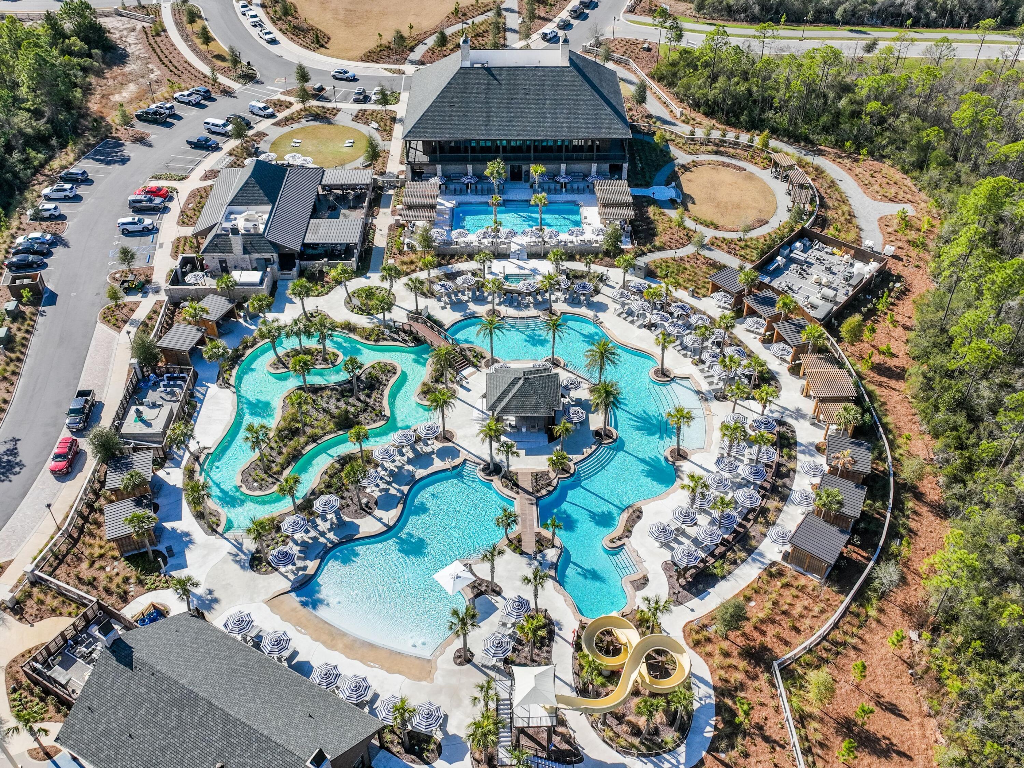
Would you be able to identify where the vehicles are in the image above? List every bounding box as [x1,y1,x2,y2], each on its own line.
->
[171,89,204,105]
[333,66,359,83]
[61,391,99,430]
[539,27,559,42]
[117,216,153,233]
[246,9,260,25]
[27,203,61,219]
[553,19,574,31]
[129,194,164,212]
[566,5,586,18]
[48,438,81,475]
[151,101,177,115]
[12,242,49,257]
[258,22,276,42]
[5,256,43,271]
[371,88,383,103]
[575,0,596,8]
[58,167,91,183]
[248,99,275,117]
[190,85,215,100]
[16,232,53,246]
[202,116,235,136]
[42,184,76,200]
[352,85,365,104]
[135,107,169,124]
[238,0,250,13]
[184,134,220,151]
[137,187,168,200]
[225,111,253,127]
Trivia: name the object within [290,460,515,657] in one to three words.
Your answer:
swimming pool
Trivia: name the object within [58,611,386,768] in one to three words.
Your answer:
building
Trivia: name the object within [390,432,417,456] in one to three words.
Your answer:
umbrella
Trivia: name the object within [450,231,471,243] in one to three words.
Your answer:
umbrella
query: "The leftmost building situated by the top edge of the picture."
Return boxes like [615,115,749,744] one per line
[402,23,633,181]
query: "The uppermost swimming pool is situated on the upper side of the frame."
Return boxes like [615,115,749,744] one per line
[454,204,581,233]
